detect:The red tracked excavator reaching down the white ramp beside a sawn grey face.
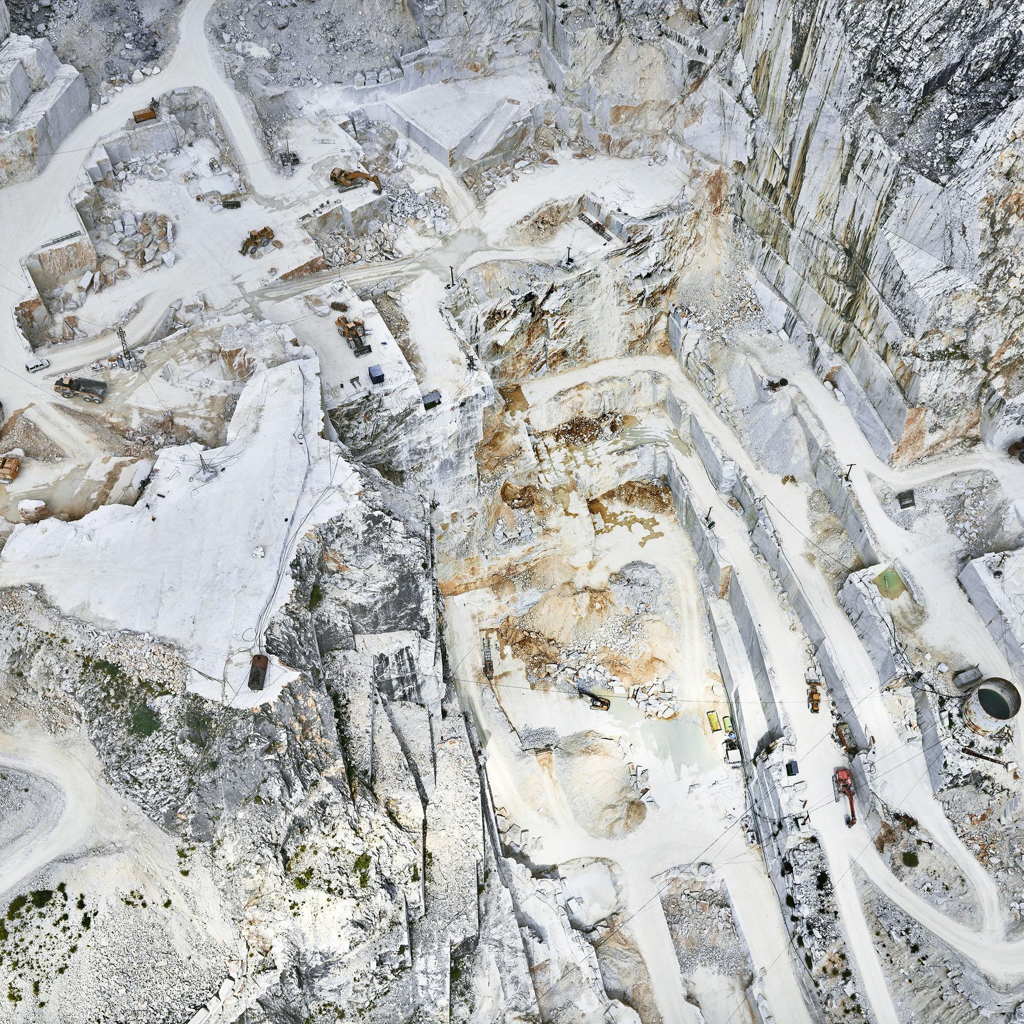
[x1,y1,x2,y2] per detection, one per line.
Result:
[834,772,857,828]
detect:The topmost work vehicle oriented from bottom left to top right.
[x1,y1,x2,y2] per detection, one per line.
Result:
[233,226,268,261]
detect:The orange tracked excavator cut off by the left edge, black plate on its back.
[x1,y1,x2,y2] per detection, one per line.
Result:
[0,460,23,487]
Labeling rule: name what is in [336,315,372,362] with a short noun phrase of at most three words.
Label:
work vehicle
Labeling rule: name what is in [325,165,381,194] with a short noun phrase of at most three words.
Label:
work vehicle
